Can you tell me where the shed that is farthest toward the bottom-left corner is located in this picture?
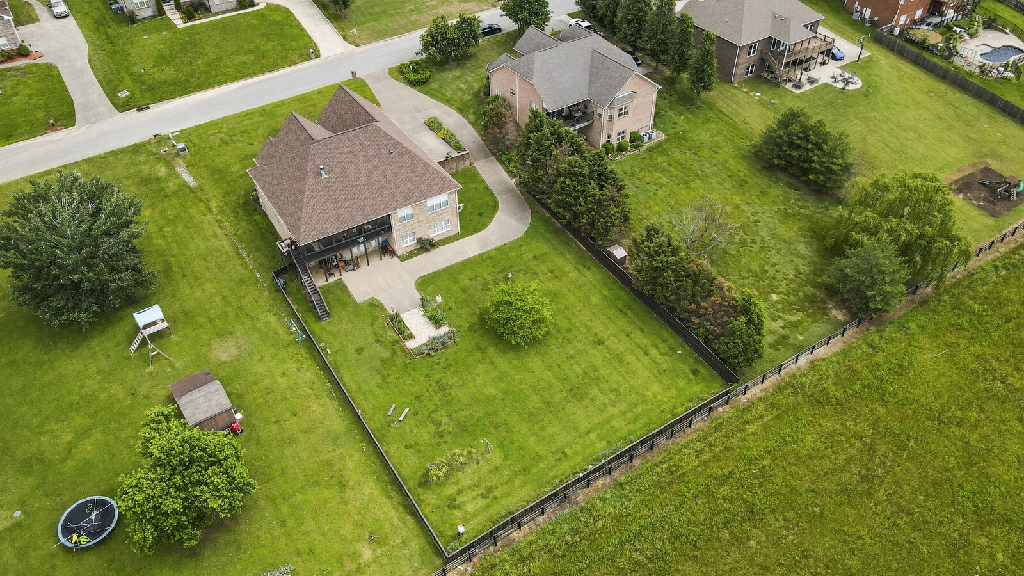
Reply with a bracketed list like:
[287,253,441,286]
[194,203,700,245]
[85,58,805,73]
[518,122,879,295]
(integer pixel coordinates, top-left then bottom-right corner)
[171,369,234,434]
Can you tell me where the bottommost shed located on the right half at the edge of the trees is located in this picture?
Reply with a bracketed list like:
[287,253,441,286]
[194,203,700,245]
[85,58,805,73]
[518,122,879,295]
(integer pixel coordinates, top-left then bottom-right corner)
[607,243,631,267]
